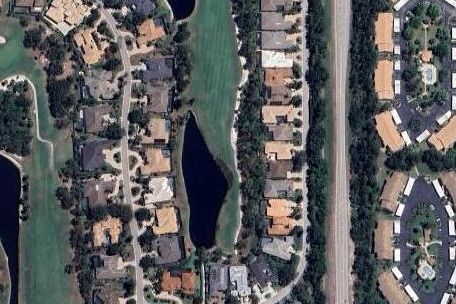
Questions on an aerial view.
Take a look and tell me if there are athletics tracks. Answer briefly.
No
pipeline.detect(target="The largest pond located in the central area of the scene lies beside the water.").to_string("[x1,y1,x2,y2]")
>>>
[182,109,228,247]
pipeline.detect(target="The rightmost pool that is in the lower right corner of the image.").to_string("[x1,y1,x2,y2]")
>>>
[418,263,435,280]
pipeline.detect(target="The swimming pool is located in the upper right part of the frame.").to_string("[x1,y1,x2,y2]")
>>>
[422,65,435,84]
